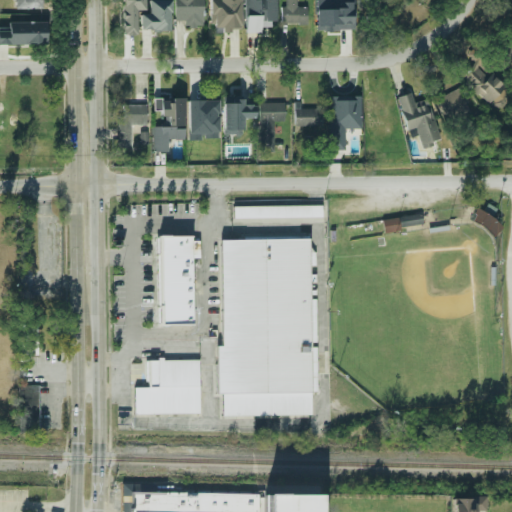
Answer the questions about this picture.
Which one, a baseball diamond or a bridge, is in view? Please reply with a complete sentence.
It is a baseball diamond that can be seen here.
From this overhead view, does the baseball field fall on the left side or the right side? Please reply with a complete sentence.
The baseball field sits on the right side.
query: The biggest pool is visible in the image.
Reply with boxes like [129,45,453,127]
[226,144,252,158]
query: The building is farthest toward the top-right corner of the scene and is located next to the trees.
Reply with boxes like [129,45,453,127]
[470,66,506,110]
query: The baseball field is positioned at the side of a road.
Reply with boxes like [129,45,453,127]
[330,226,500,409]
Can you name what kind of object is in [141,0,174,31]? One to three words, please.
house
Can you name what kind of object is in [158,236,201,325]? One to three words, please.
building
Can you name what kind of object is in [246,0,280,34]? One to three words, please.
house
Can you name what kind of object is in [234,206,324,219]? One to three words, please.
building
